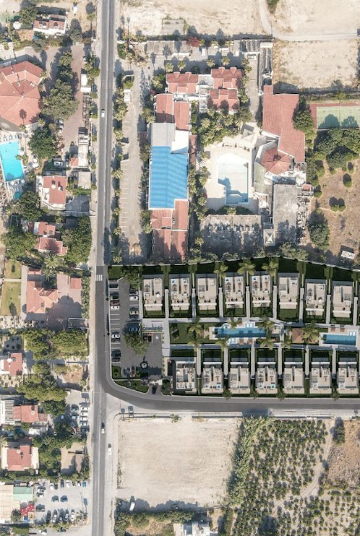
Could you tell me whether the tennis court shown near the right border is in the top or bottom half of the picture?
top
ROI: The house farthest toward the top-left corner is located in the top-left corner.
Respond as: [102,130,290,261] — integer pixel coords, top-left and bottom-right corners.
[33,14,67,37]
